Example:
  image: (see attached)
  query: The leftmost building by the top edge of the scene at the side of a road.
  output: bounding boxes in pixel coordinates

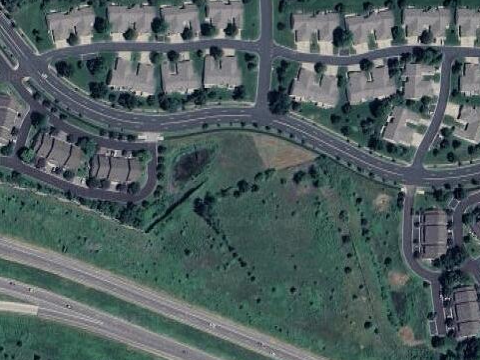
[44,5,94,44]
